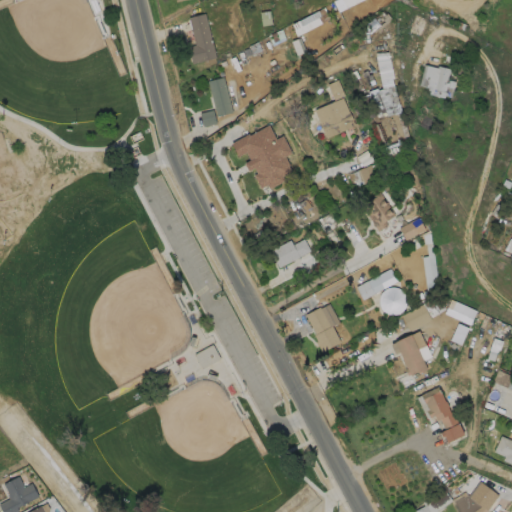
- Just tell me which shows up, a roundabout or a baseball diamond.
baseball diamond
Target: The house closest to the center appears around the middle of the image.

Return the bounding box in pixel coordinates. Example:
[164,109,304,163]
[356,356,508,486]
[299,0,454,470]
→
[276,240,312,267]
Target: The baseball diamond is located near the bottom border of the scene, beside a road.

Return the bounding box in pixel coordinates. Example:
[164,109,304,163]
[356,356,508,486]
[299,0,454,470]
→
[94,379,281,512]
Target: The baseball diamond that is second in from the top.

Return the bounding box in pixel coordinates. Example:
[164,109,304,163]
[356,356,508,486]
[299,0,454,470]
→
[56,221,193,410]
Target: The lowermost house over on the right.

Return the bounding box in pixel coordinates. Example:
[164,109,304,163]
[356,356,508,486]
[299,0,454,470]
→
[454,482,500,512]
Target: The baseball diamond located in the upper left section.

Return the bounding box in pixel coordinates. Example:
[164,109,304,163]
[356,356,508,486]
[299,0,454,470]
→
[0,0,129,124]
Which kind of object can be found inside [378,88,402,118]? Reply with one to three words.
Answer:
shed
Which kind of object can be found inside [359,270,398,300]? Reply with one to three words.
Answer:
barn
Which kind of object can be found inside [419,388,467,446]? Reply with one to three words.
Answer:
house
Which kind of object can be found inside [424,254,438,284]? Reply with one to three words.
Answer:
building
